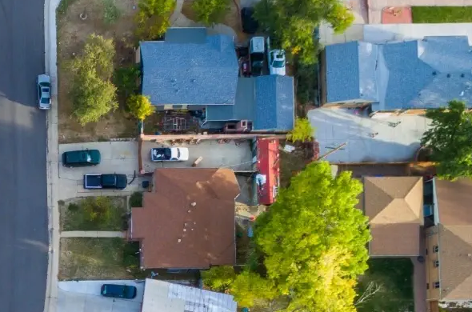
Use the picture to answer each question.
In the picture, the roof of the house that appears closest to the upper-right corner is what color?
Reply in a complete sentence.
The color of the roof on the house that appears closest to the upper-right corner is blue.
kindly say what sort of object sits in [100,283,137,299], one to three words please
car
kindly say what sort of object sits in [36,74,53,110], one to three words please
car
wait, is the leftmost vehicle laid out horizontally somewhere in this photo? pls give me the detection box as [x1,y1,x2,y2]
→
[61,149,100,167]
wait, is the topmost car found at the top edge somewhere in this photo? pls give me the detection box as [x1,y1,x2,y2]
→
[240,5,259,36]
